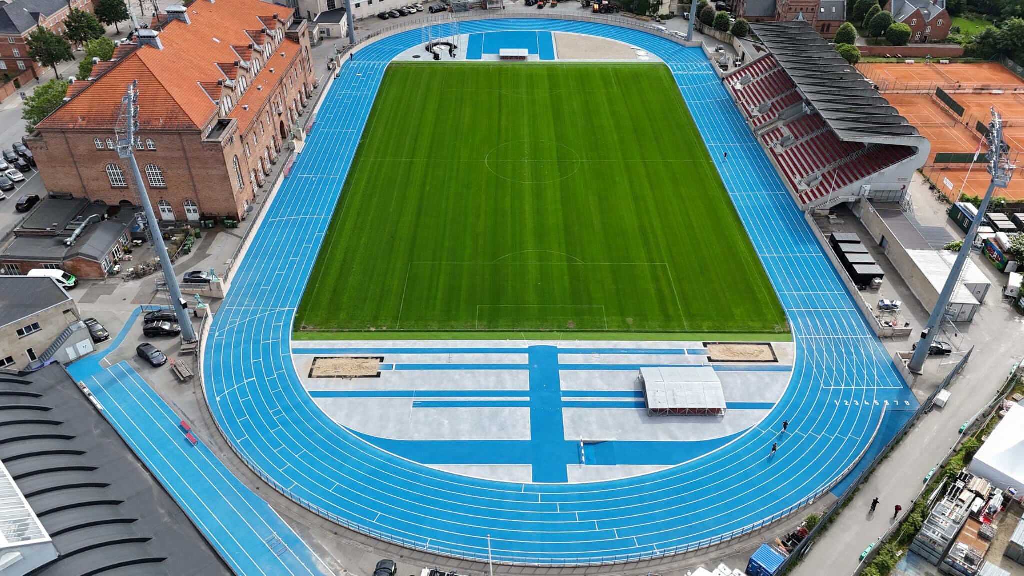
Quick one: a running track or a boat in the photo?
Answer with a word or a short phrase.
running track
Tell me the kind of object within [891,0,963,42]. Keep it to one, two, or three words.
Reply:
house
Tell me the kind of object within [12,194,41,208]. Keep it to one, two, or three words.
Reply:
car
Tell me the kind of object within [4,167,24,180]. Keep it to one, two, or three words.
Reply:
vehicle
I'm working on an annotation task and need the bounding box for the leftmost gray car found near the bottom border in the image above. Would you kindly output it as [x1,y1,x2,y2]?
[373,555,396,576]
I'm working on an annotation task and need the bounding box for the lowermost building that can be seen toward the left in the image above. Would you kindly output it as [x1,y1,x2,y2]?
[0,359,237,576]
